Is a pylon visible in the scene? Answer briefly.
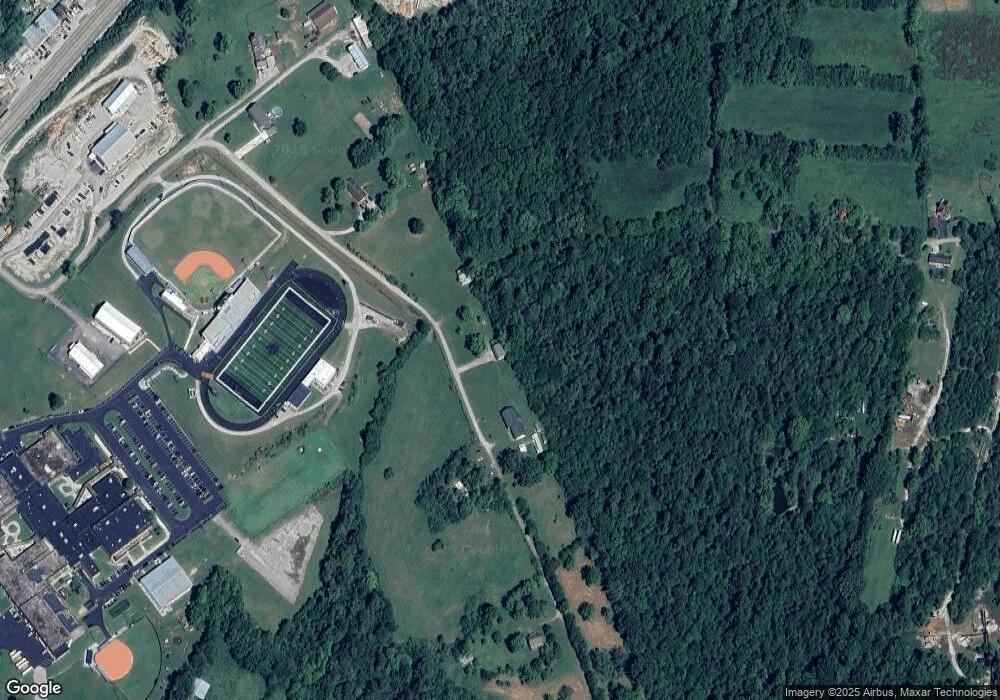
No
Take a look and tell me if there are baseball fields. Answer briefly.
Yes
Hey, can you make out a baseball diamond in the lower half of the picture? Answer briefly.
Yes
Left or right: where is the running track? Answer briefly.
left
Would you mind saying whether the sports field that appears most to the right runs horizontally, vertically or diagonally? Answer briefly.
diagonally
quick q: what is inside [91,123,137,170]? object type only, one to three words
building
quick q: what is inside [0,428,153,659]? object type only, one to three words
building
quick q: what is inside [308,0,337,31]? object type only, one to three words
barn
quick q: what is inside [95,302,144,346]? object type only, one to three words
shed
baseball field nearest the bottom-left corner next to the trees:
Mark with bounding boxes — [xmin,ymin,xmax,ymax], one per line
[95,618,160,700]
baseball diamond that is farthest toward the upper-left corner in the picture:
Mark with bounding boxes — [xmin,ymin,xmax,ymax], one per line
[134,179,281,309]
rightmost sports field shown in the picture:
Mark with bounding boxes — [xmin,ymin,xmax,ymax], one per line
[213,283,336,417]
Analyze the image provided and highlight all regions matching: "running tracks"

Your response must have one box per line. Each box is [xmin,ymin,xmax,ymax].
[201,259,348,432]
